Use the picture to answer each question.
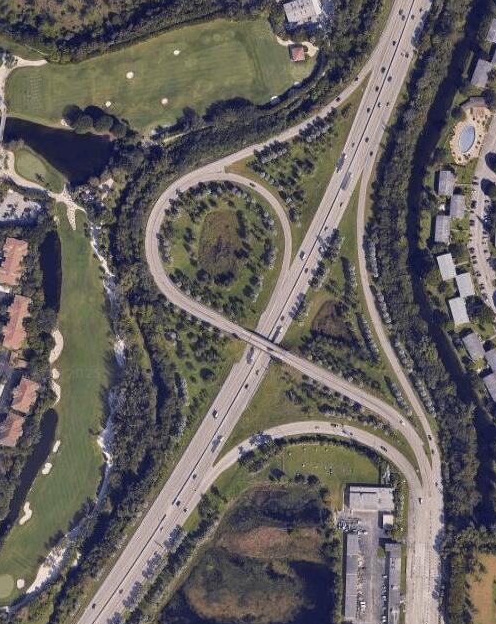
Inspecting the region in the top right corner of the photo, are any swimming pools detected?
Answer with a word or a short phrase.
Yes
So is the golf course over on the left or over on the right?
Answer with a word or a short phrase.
left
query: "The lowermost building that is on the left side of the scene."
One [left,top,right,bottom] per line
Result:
[1,414,23,446]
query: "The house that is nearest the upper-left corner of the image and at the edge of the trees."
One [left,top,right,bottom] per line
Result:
[0,237,27,285]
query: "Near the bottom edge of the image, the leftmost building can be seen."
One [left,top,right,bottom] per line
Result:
[345,544,358,618]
